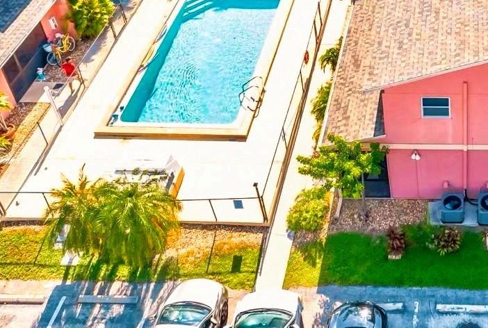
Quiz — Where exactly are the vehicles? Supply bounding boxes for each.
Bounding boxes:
[225,288,309,328]
[320,297,400,328]
[135,281,227,328]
